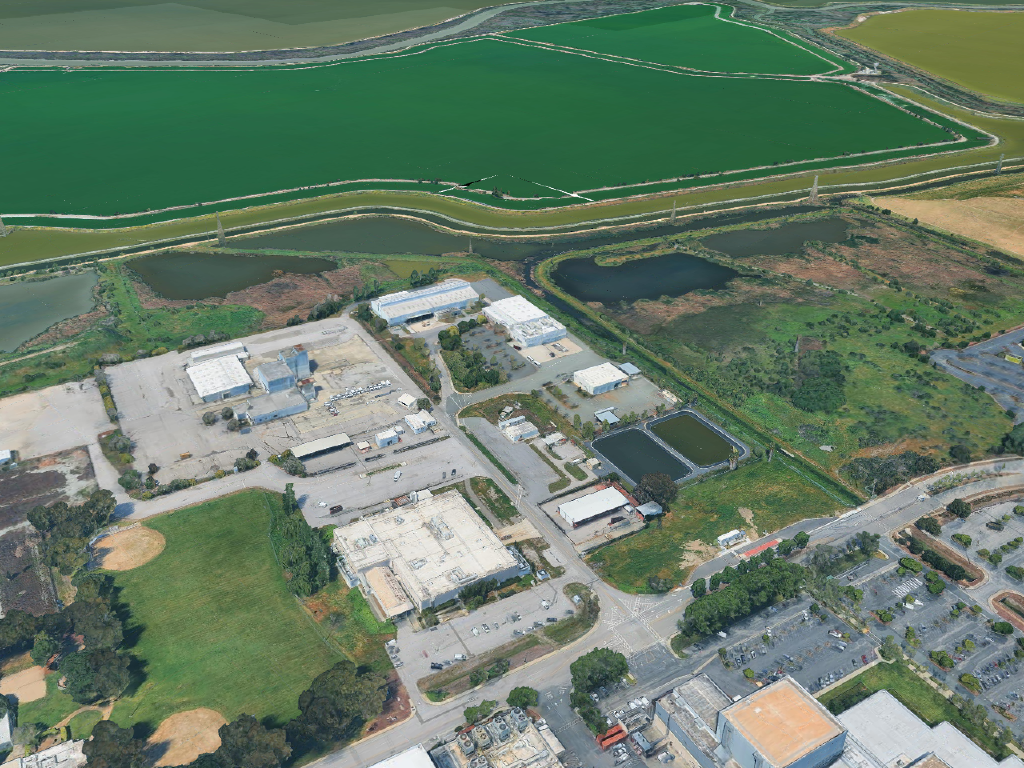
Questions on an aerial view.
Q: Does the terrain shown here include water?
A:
Yes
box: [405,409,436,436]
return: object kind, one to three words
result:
house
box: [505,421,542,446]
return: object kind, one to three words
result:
shed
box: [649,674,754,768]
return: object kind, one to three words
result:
building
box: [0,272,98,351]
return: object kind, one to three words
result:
pond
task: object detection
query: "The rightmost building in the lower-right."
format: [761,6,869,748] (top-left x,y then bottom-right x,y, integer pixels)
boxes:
[835,689,1024,768]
